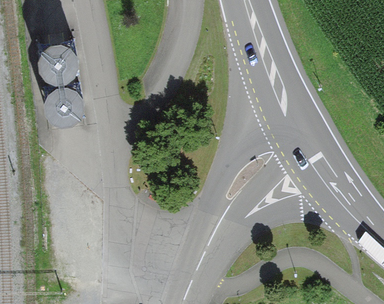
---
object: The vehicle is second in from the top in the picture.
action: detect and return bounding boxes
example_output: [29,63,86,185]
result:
[292,146,307,170]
